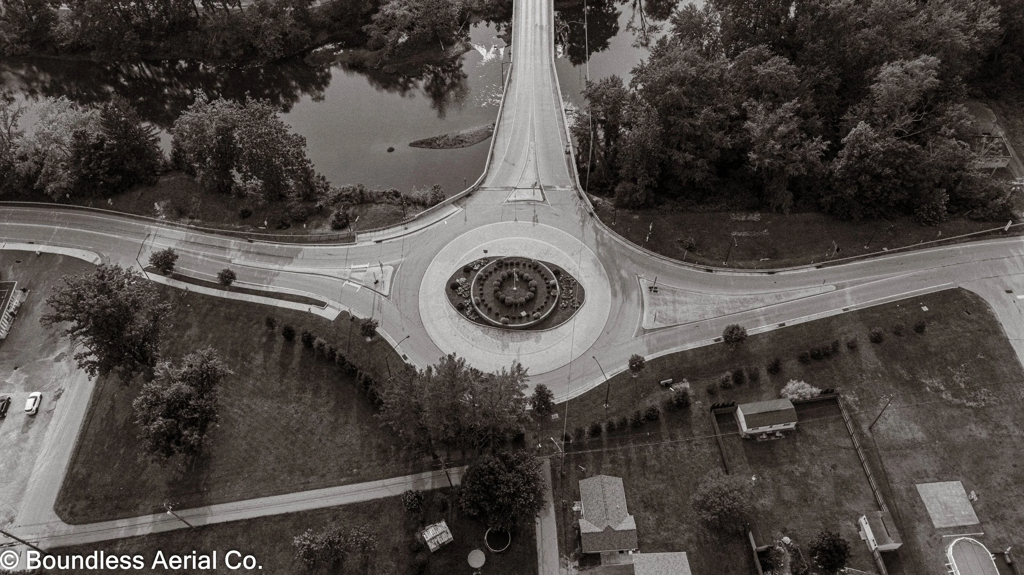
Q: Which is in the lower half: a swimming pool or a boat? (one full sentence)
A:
There is a swimming pool in the lower half.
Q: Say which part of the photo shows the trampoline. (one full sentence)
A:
The trampoline is in the bottom part of the image.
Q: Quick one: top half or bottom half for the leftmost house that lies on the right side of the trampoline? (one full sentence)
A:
The leftmost house that lies on the right side of the trampoline is in the bottom half of the image.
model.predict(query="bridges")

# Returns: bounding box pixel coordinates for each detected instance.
[474,0,585,191]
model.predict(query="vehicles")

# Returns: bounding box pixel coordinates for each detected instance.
[0,393,10,418]
[21,390,43,415]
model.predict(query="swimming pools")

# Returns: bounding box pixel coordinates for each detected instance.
[483,526,512,558]
[943,537,1002,575]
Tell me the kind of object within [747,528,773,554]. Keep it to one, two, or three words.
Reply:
shed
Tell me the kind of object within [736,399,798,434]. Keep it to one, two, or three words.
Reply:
shed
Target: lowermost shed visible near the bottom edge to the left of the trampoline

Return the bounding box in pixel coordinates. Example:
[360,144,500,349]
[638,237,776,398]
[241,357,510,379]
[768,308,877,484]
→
[422,520,453,556]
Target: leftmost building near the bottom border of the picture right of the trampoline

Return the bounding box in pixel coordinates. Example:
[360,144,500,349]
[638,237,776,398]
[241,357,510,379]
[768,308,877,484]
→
[578,474,638,559]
